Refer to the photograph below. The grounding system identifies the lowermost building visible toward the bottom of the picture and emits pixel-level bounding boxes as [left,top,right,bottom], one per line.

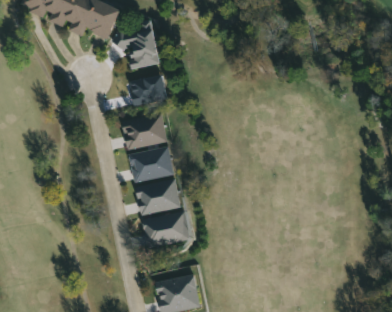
[152,274,202,312]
